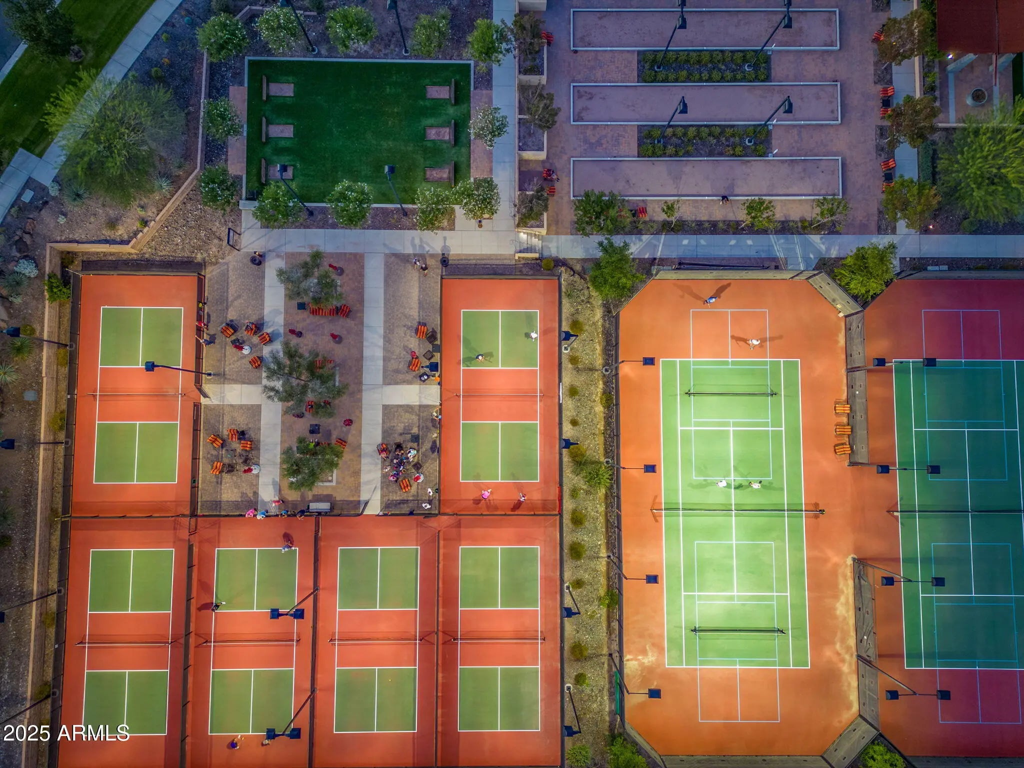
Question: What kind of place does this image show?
sports ground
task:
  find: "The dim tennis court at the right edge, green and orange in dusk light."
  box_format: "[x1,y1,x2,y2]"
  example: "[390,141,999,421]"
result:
[846,280,1024,756]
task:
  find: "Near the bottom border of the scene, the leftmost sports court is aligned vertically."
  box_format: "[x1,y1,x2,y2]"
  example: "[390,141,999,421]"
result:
[59,516,192,768]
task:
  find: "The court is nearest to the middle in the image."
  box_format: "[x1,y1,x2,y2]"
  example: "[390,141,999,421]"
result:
[441,278,560,515]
